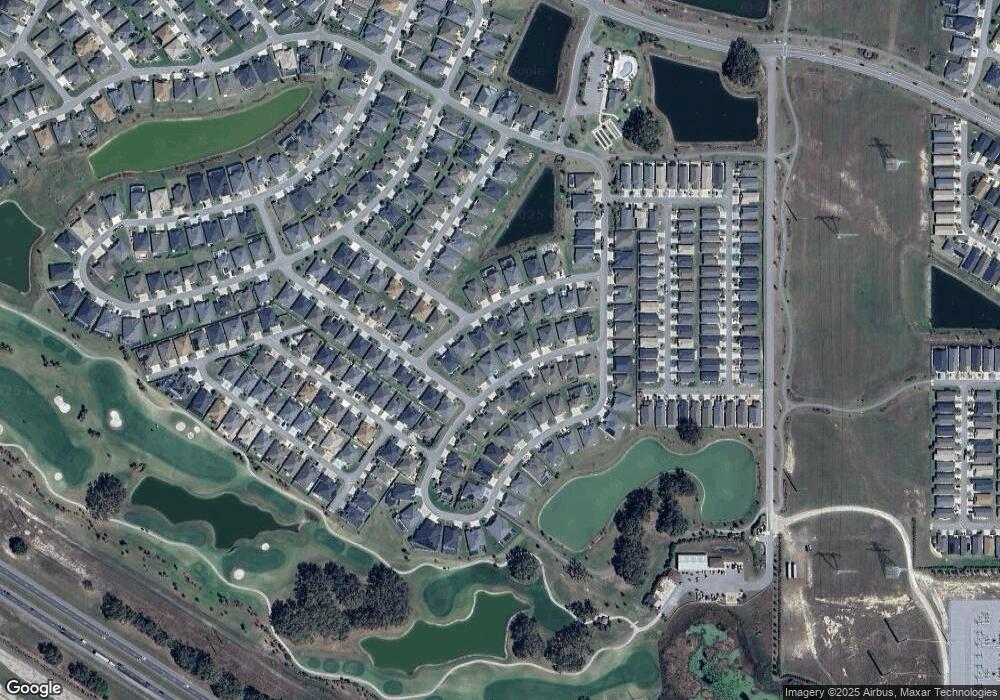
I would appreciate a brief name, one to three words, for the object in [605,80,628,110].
building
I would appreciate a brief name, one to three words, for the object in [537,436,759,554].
pond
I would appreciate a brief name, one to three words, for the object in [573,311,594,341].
house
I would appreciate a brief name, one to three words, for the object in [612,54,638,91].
swimming pool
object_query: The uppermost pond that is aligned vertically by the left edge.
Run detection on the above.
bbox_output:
[0,199,45,294]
